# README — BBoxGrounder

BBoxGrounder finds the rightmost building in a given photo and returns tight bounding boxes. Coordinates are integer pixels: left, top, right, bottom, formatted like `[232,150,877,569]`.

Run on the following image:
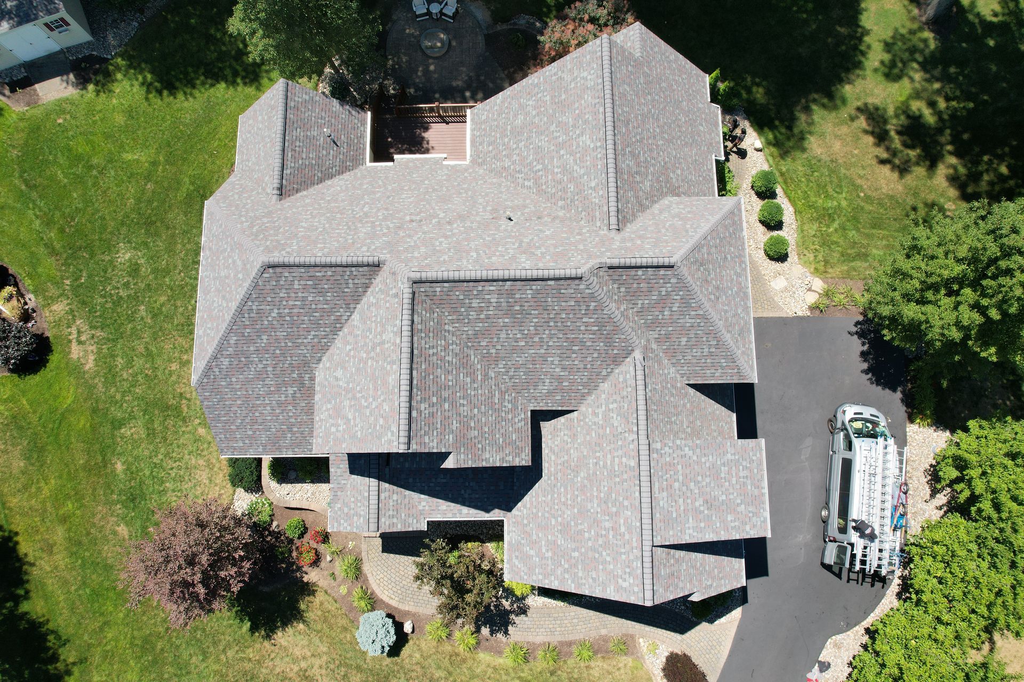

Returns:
[191,20,774,606]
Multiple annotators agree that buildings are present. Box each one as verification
[0,0,95,71]
[191,20,774,606]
